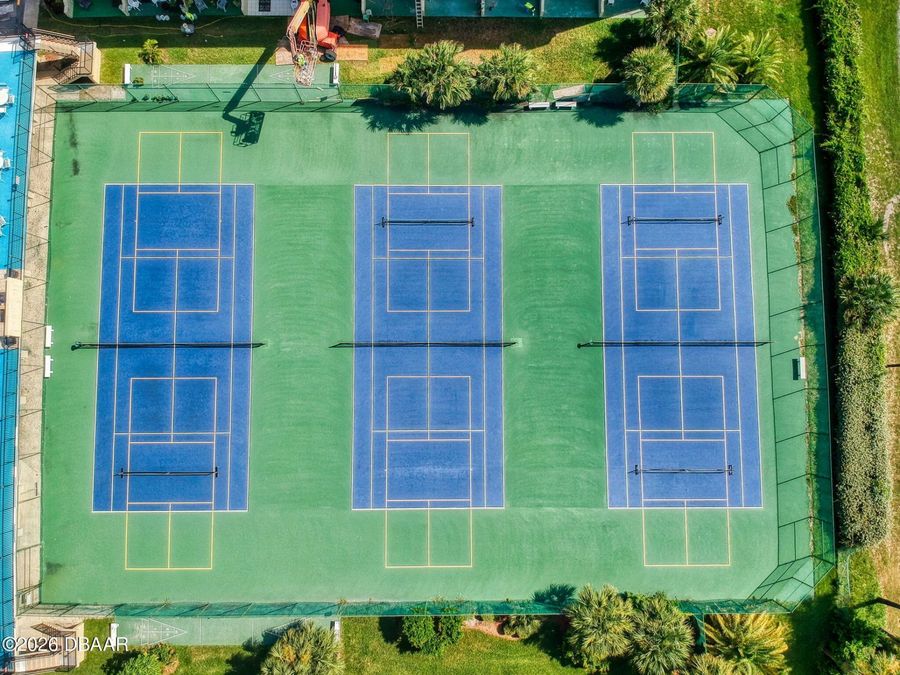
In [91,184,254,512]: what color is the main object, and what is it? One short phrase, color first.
blue tennis court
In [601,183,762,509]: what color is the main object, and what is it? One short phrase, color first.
blue tennis court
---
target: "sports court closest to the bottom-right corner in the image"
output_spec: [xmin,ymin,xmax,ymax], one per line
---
[639,376,730,566]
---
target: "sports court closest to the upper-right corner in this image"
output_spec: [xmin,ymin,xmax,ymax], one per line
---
[632,132,721,310]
